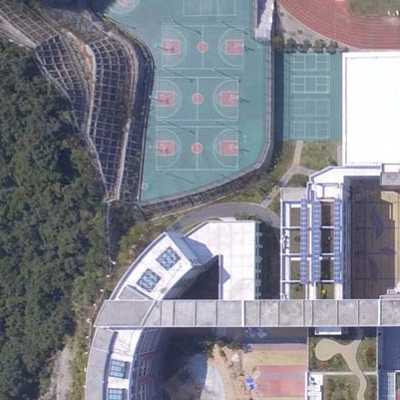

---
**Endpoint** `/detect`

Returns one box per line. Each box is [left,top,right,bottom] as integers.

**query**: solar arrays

[335,199,340,283]
[301,199,308,284]
[312,201,320,282]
